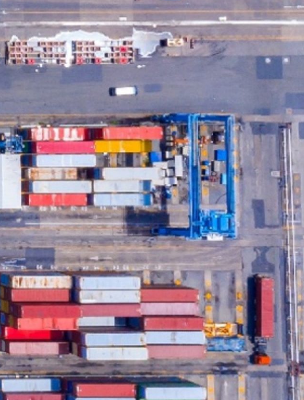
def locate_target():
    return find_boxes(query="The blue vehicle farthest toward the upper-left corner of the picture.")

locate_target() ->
[0,134,28,151]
